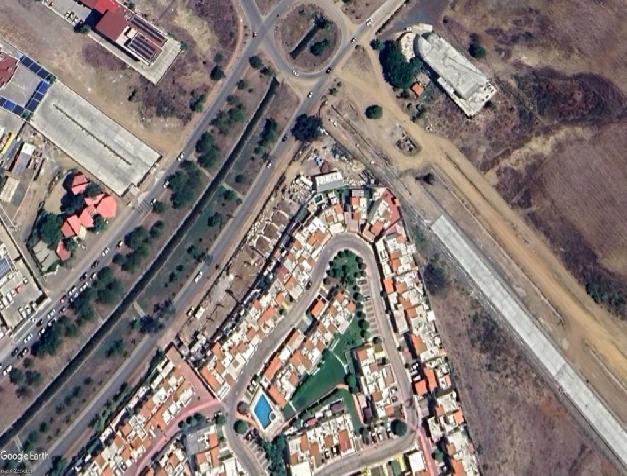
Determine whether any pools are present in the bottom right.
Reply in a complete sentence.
No, no pool is visible in the bottom right.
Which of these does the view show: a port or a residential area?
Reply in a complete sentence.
It's a residential area.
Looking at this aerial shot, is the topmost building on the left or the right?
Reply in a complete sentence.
The topmost building sits on the left side.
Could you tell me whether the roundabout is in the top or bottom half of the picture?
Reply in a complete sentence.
It is in the top half that the roundabout appears.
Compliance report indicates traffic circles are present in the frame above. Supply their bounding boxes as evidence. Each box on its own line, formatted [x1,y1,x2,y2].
[268,0,351,81]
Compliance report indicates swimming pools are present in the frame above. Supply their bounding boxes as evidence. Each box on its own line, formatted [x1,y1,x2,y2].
[249,388,285,436]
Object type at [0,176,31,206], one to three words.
shed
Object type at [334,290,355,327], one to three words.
house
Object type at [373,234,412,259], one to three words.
house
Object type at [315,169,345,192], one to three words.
shed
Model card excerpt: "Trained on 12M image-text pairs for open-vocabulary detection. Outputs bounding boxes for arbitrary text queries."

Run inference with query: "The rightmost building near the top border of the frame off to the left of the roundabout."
[80,0,168,61]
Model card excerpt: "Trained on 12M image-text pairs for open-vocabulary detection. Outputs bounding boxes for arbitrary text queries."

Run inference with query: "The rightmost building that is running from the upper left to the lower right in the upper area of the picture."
[421,37,487,98]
